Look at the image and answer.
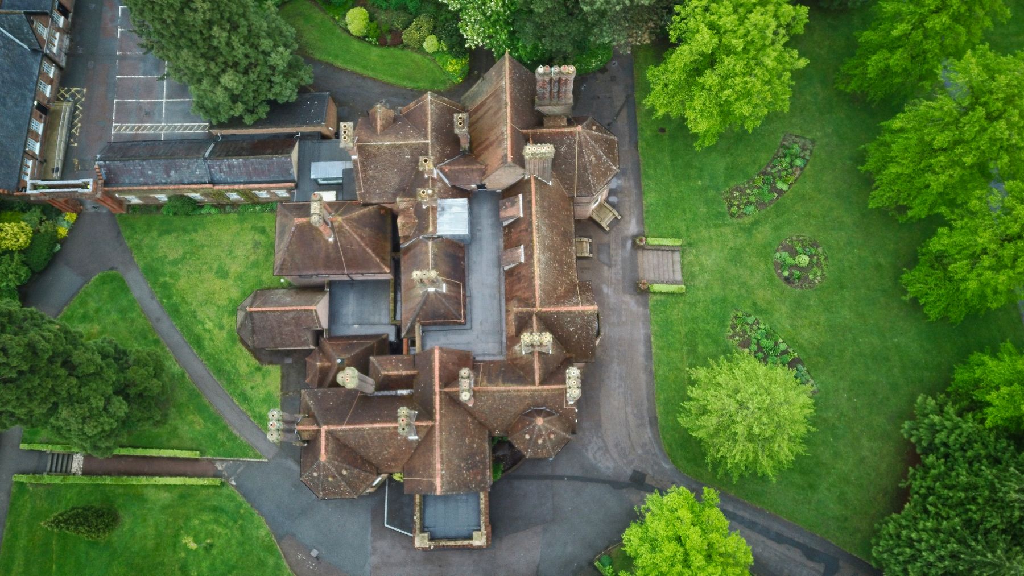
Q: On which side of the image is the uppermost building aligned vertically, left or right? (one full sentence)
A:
The uppermost building aligned vertically is on the left side of the image.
